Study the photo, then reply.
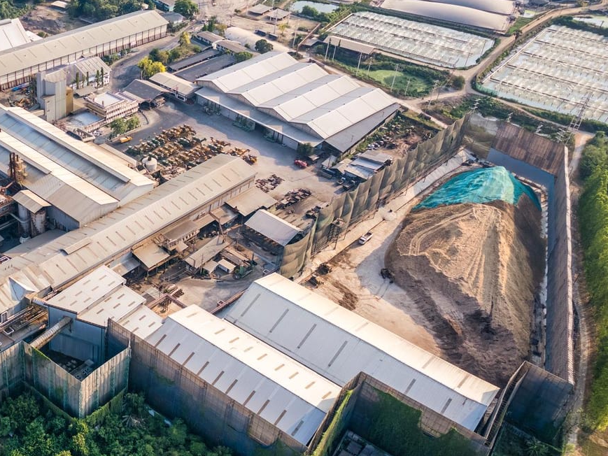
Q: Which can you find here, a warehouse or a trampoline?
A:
warehouse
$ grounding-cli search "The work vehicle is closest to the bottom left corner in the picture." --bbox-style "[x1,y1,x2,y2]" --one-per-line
[232,265,254,279]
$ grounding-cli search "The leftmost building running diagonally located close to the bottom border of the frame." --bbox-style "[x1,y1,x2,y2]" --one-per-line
[141,301,352,454]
